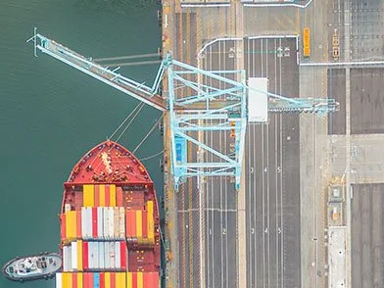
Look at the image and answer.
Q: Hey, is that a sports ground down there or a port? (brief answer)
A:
port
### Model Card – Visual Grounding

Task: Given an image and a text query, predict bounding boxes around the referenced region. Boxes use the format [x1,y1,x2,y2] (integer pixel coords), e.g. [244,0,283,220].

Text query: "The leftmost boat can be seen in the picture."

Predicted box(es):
[3,253,60,281]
